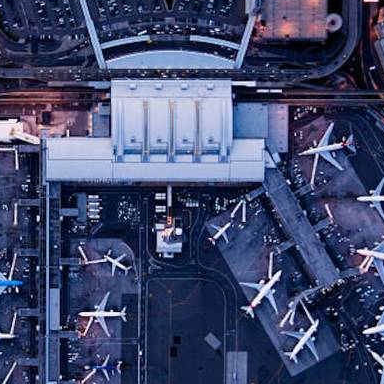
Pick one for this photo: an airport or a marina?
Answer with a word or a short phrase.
airport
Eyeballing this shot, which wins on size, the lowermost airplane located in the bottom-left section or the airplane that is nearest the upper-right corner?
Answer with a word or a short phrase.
the airplane that is nearest the upper-right corner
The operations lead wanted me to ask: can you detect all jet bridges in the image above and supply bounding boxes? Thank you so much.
[231,200,245,219]
[79,369,97,384]
[0,148,19,171]
[10,311,18,335]
[84,257,108,265]
[4,360,18,384]
[325,203,335,225]
[290,309,297,326]
[8,251,18,281]
[359,255,370,274]
[280,308,295,328]
[77,245,86,264]
[300,300,316,324]
[311,153,319,190]
[79,316,94,338]
[364,257,374,275]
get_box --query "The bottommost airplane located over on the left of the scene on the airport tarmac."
[86,355,122,380]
